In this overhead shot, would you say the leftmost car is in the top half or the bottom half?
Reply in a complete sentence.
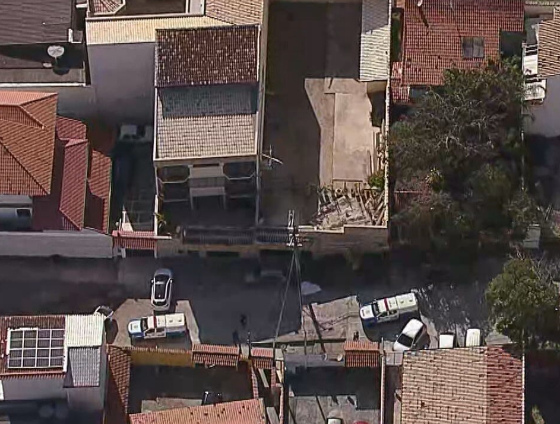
The bottom half of the photo is where the leftmost car is.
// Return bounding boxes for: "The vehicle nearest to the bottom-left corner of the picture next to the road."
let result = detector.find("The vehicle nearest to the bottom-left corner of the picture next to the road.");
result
[97,303,122,329]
